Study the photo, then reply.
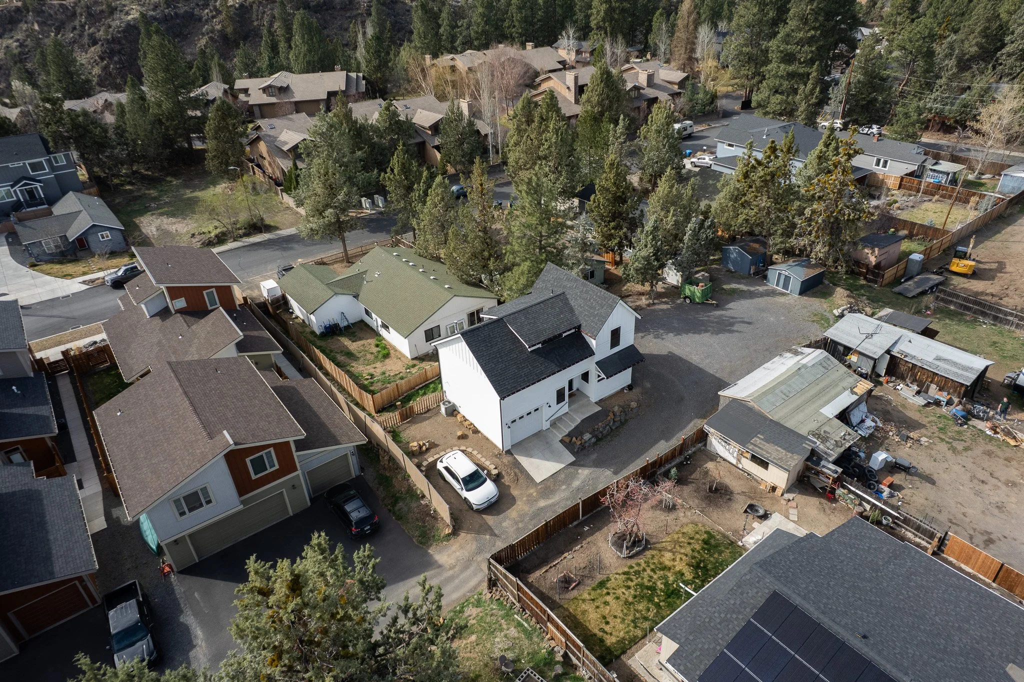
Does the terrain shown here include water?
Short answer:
No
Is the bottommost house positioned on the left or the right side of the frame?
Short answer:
right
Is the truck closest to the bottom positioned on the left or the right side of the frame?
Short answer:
left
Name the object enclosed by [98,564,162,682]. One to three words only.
truck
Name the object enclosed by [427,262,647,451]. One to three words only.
house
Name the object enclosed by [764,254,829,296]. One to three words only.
shed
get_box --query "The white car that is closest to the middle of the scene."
[436,446,504,513]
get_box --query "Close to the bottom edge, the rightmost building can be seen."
[651,516,1024,682]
